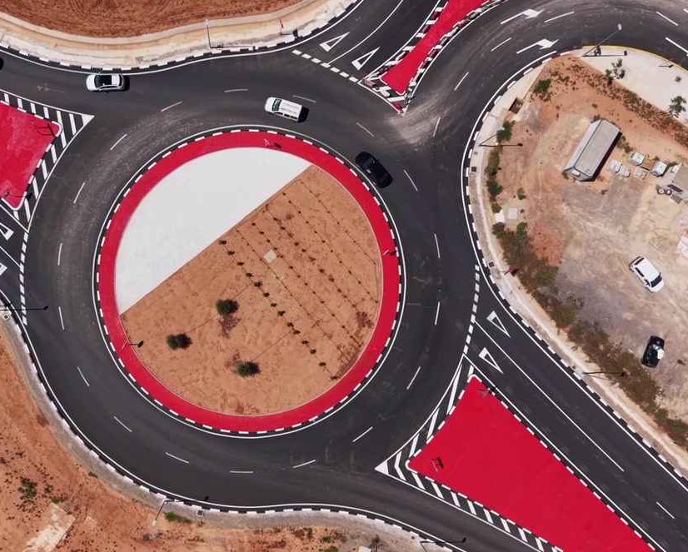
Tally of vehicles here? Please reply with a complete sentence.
There are 5 vehicles in the image.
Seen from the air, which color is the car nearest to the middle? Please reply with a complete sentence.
From above, the car nearest to the middle appears black.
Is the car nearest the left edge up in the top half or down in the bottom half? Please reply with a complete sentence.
It is in the top half that the car nearest the left edge appears.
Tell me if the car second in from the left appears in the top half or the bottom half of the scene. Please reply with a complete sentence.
The car second in from the left is in the top half of the image.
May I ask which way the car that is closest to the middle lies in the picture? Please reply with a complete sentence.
The car that is closest to the middle has been laid out diagonally relative to the frame.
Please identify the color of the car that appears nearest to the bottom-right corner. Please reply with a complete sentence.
The car that appears nearest to the bottom-right corner is black.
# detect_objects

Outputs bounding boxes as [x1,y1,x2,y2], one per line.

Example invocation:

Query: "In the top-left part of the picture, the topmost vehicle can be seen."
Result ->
[86,72,126,93]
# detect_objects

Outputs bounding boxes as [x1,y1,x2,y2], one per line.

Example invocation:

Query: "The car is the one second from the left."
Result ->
[264,98,305,123]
